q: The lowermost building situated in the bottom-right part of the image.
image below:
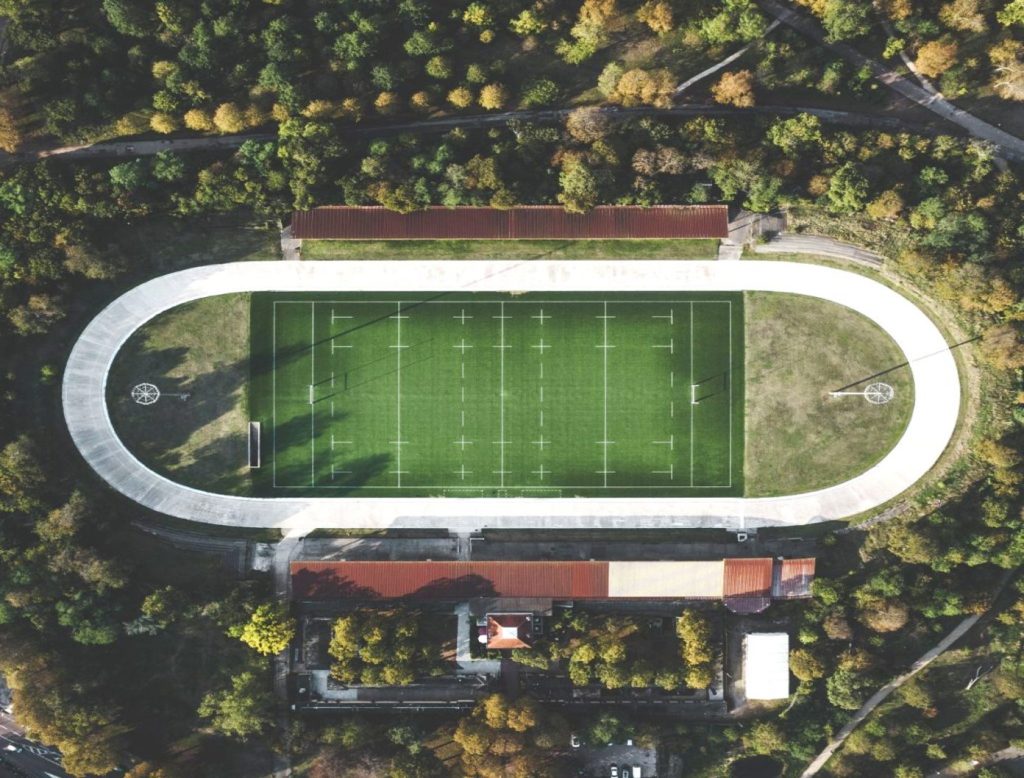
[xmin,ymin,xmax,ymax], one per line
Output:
[742,629,789,698]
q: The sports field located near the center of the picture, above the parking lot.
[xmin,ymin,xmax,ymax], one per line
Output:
[249,291,744,498]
